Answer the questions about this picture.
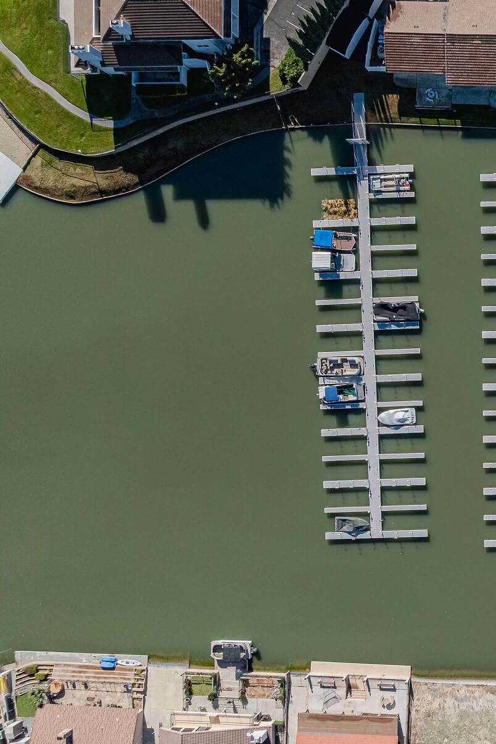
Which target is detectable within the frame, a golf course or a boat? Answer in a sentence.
Looking from above, you can make out a boat.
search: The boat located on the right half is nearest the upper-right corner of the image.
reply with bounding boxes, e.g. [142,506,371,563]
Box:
[364,175,415,193]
